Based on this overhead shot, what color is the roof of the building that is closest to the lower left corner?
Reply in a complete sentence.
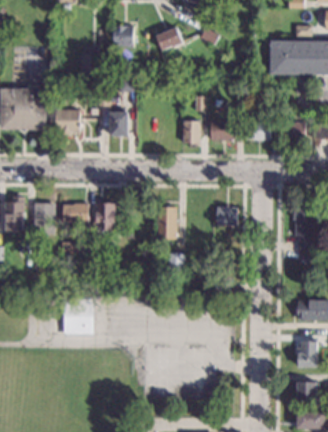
The roof over the building that is closest to the lower left corner appears white.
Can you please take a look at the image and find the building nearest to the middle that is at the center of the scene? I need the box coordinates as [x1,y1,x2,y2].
[158,204,178,240]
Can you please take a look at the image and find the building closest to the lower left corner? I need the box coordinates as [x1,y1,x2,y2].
[64,300,96,337]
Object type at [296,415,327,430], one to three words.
house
